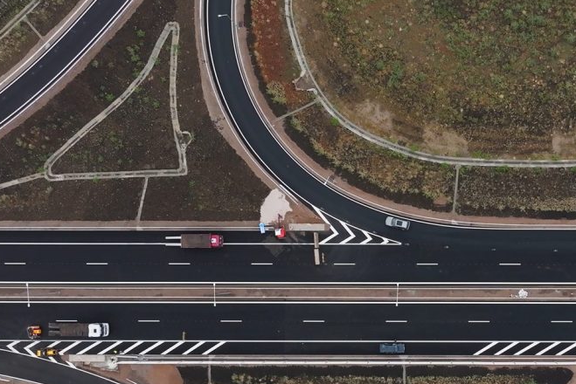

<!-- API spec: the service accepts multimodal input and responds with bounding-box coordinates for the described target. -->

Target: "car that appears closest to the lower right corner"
[380,341,405,353]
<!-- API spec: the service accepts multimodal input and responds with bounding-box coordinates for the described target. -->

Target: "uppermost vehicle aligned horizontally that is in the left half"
[165,232,224,248]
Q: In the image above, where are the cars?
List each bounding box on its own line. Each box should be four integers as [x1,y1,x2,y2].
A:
[385,216,411,229]
[380,341,405,353]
